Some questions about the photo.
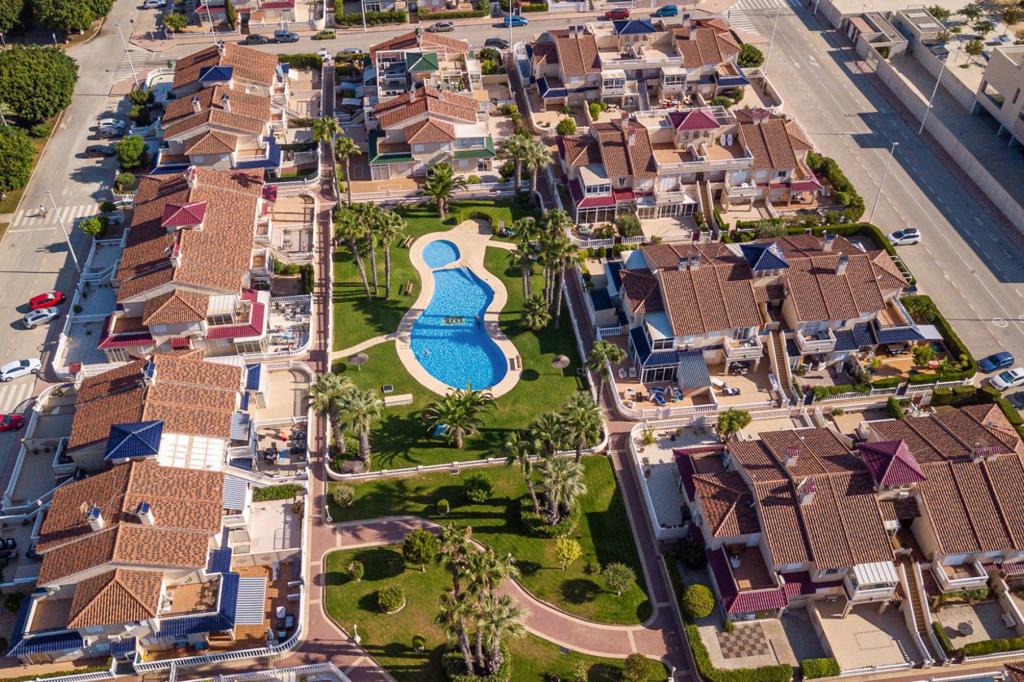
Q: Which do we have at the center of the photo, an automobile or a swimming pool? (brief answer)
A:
swimming pool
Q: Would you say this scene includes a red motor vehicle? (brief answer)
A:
Yes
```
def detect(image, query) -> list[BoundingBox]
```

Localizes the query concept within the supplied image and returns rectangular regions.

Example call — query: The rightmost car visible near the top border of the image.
[655,2,680,16]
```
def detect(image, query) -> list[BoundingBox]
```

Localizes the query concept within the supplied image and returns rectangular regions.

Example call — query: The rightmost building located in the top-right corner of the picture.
[974,46,1024,155]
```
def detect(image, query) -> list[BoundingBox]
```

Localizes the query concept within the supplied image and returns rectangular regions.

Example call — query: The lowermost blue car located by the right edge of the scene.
[980,352,1020,374]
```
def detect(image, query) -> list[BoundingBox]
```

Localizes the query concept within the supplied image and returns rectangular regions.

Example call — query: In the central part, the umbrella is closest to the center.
[550,353,575,375]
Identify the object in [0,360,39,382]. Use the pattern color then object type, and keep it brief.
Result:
white car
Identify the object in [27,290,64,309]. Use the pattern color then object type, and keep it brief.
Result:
red car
